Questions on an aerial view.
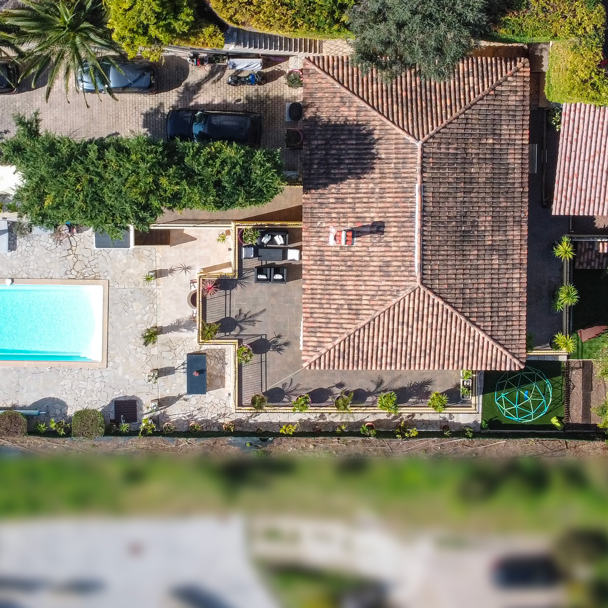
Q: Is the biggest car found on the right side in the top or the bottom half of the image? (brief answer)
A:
bottom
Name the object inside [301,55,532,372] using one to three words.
house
